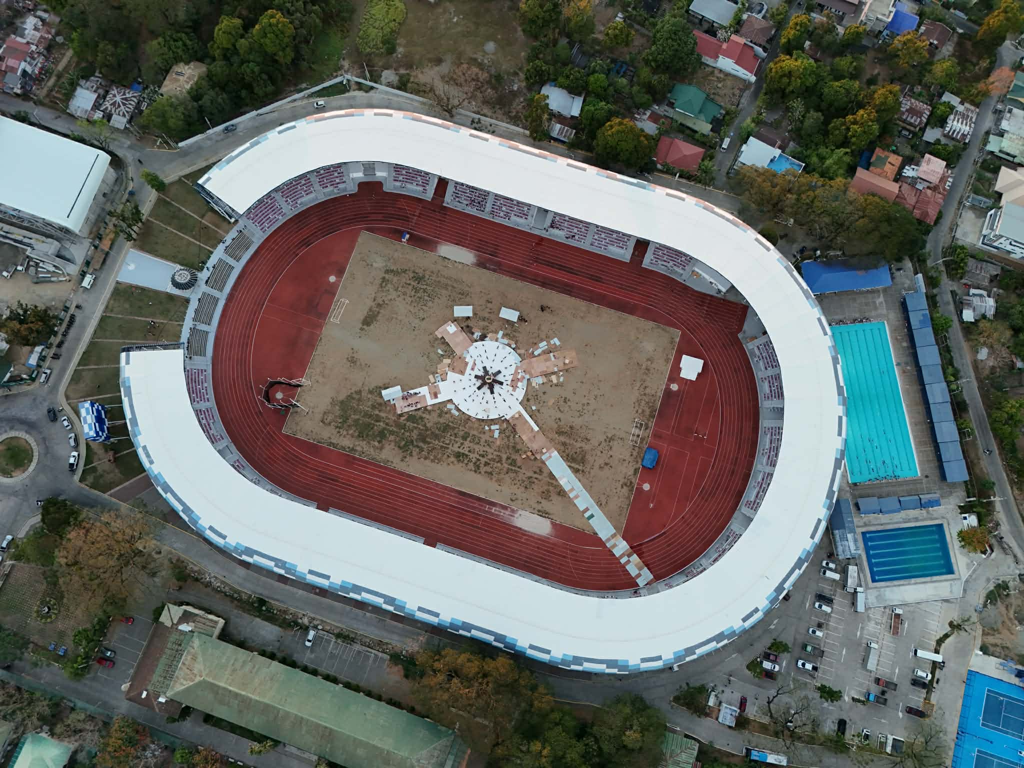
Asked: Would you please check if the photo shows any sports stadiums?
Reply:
Yes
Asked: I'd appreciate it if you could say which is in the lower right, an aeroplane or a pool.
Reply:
pool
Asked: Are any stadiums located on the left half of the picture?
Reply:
Yes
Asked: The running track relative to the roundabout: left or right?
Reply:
right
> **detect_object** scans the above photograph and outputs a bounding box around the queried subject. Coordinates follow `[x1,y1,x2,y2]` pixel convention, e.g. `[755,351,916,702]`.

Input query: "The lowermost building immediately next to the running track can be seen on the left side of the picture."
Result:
[125,603,461,768]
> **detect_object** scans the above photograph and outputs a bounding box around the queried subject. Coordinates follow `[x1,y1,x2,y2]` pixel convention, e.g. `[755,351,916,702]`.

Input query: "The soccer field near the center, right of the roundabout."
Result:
[283,231,680,535]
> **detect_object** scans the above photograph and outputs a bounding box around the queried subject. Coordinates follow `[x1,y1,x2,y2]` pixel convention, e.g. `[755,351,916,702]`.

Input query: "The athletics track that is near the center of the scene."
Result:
[213,177,759,591]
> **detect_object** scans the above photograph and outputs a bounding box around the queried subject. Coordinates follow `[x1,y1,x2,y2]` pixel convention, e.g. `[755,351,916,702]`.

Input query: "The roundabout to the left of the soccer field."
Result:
[0,432,38,482]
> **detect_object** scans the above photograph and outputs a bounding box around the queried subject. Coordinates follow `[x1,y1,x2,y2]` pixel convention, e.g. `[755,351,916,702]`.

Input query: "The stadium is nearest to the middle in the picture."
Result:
[120,109,846,673]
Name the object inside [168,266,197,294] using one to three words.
gazebo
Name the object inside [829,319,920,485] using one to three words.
swimming pool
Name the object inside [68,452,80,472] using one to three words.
vehicle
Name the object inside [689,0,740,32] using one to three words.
house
